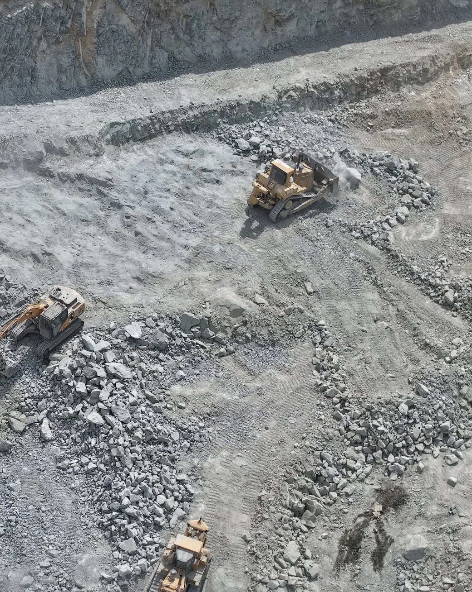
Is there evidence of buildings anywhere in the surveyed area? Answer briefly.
No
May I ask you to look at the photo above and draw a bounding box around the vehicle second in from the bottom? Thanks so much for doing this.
[0,281,89,376]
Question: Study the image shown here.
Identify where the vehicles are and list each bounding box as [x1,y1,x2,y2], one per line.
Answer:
[150,520,214,592]
[0,281,89,376]
[247,150,341,224]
